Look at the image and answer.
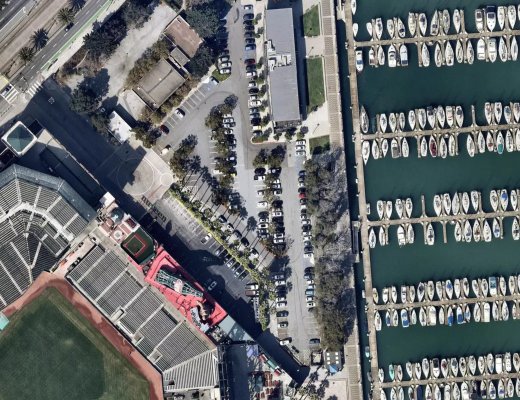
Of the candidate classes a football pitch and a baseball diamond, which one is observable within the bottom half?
baseball diamond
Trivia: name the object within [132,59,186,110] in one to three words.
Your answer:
building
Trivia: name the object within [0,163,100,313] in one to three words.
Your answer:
stadium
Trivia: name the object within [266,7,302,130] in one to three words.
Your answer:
building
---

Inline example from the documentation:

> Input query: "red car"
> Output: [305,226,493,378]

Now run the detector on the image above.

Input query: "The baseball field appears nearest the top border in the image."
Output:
[120,227,156,268]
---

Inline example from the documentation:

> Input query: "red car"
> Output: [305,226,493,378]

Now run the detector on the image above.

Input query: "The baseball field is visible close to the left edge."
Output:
[0,264,166,400]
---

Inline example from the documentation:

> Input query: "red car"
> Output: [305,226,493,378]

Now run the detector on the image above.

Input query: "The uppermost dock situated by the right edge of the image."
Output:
[355,8,520,68]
